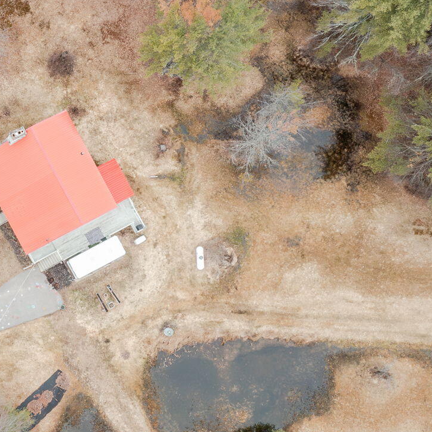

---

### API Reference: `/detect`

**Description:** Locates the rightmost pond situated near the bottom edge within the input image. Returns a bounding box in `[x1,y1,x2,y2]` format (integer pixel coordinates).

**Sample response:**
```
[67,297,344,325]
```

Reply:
[145,339,432,432]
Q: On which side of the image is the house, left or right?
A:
left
